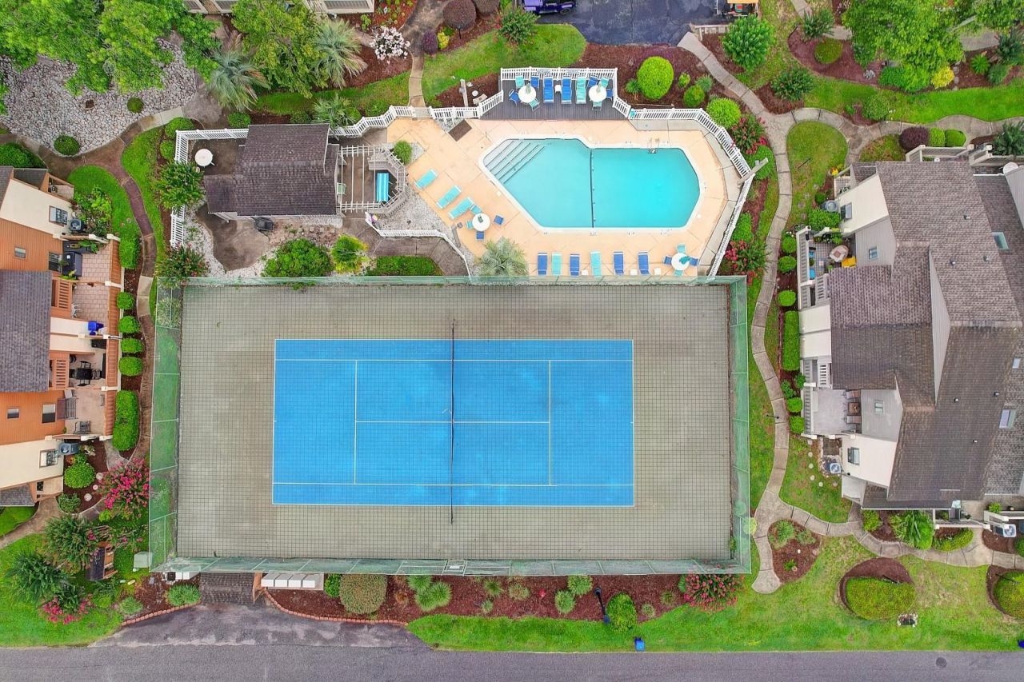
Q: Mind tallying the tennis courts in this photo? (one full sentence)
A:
My tally gives 1 tennis court in this photo.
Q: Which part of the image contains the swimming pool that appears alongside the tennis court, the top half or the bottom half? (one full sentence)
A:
The top half of the photo is where the swimming pool that appears alongside the tennis court is.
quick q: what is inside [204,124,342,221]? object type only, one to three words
building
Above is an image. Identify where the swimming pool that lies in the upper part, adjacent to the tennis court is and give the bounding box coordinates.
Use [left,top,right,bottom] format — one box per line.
[479,133,707,234]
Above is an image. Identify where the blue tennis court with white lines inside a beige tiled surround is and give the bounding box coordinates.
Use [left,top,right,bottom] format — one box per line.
[177,285,731,558]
